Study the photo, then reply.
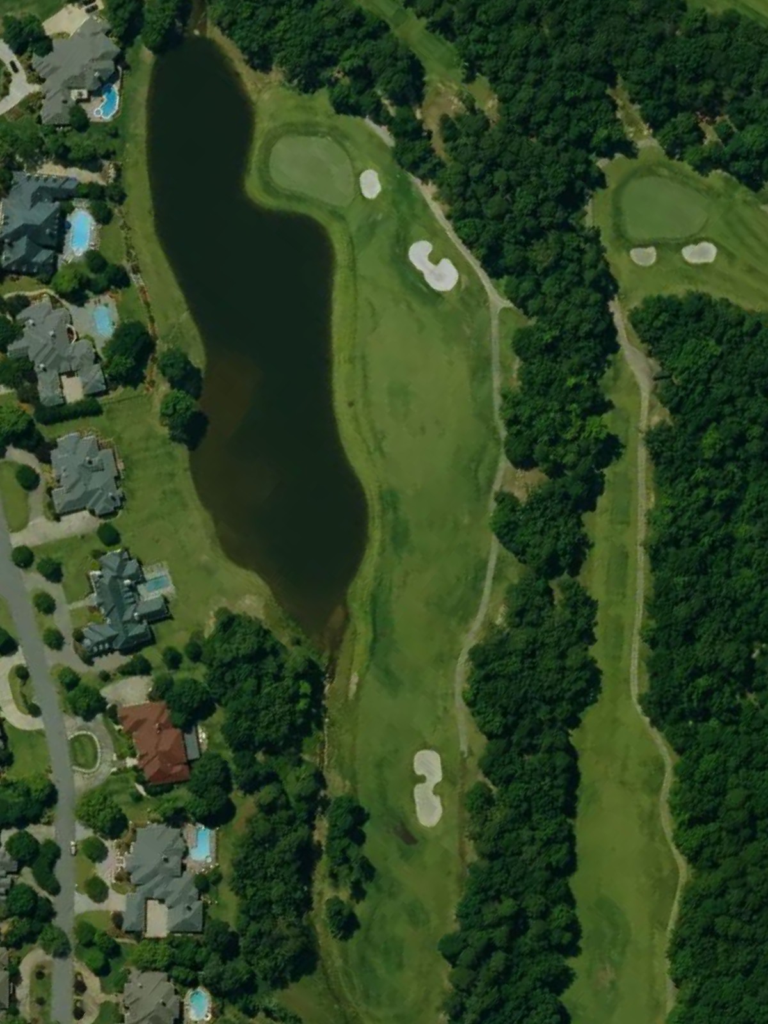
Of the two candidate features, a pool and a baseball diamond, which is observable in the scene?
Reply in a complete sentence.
It is a pool that can be seen here.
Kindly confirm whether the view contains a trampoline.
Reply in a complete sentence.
No, there appears to be no trampoline in this shot.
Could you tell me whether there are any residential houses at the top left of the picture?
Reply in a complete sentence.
Yes, a residential house can be seen at the top left of the picture.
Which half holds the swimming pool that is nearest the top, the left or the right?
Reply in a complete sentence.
The swimming pool that is nearest the top sits on the left side.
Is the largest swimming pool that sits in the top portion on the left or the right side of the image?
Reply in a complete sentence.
It is on the left.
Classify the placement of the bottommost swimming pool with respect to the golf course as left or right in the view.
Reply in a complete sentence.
Looking at the picture, you'll find the bottommost swimming pool to the left of the golf course.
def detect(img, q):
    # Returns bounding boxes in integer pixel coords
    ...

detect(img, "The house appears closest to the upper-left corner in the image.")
[29,11,123,124]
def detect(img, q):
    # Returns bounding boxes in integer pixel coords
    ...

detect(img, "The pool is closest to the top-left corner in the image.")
[94,85,119,118]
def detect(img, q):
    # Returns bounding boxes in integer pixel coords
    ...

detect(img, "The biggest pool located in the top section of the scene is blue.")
[70,207,92,254]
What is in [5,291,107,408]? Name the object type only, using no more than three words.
house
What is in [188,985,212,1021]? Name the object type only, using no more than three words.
swimming pool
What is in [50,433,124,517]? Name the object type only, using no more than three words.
house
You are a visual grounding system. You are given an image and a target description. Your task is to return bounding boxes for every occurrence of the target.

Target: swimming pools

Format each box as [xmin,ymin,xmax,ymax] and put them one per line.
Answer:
[145,575,170,593]
[190,827,212,863]
[93,304,115,337]
[70,207,92,254]
[188,985,212,1021]
[94,85,119,118]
